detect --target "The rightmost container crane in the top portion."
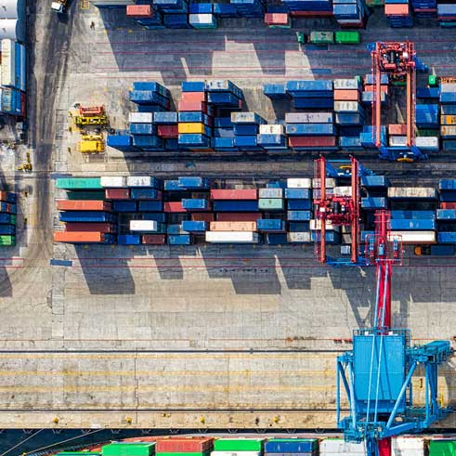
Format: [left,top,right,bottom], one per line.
[372,40,429,166]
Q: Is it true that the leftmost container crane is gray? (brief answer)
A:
No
